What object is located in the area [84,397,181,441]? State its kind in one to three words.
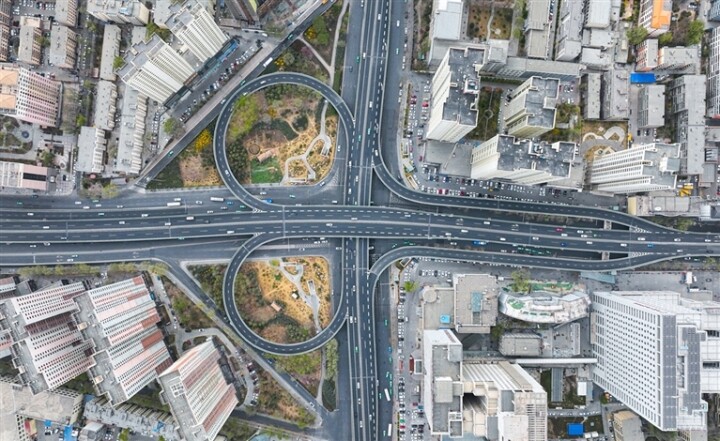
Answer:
building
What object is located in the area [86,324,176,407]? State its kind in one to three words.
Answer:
building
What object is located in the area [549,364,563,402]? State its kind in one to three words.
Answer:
shed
